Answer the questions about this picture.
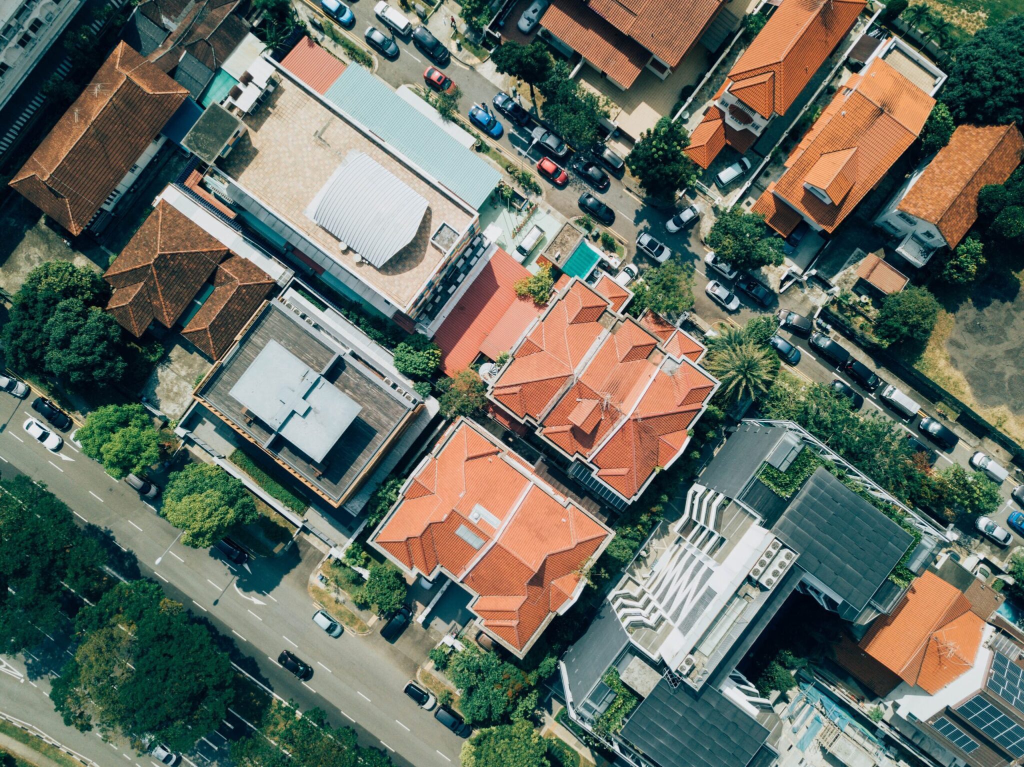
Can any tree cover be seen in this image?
Yes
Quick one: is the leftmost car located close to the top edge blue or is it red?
blue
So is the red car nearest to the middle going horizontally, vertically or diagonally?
diagonally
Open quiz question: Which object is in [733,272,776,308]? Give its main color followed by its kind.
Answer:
black car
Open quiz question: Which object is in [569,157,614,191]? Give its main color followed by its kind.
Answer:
black car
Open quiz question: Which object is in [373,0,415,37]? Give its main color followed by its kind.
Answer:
white van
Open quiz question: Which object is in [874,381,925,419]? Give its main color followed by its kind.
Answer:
white van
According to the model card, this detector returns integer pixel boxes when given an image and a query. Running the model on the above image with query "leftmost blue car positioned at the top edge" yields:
[318,0,358,28]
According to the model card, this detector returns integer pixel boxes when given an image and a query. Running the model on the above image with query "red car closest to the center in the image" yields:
[533,153,572,188]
